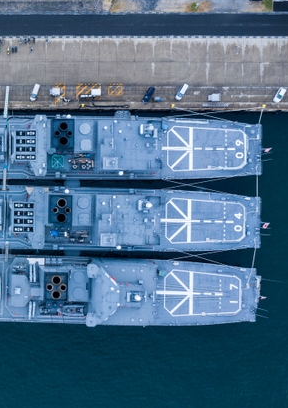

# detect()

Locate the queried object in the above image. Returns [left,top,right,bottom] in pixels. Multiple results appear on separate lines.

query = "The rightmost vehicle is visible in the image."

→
[274,86,288,102]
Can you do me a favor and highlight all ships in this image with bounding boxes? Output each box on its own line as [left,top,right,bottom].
[0,114,274,180]
[0,253,287,326]
[0,185,270,250]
